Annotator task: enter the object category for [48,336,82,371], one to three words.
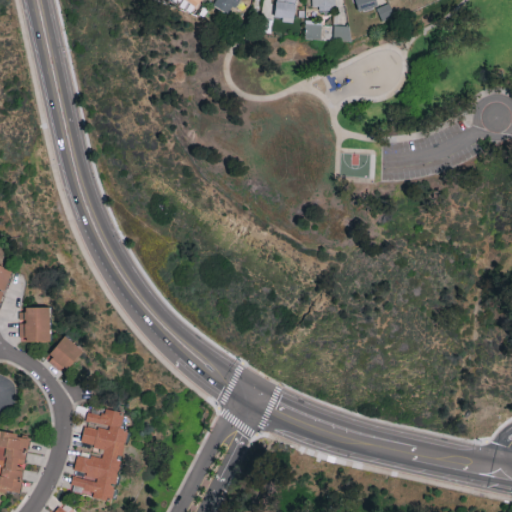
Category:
house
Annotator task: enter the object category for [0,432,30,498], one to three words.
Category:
house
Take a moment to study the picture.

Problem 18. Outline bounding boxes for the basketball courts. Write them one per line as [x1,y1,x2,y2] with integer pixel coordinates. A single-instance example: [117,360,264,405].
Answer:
[340,153,375,180]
